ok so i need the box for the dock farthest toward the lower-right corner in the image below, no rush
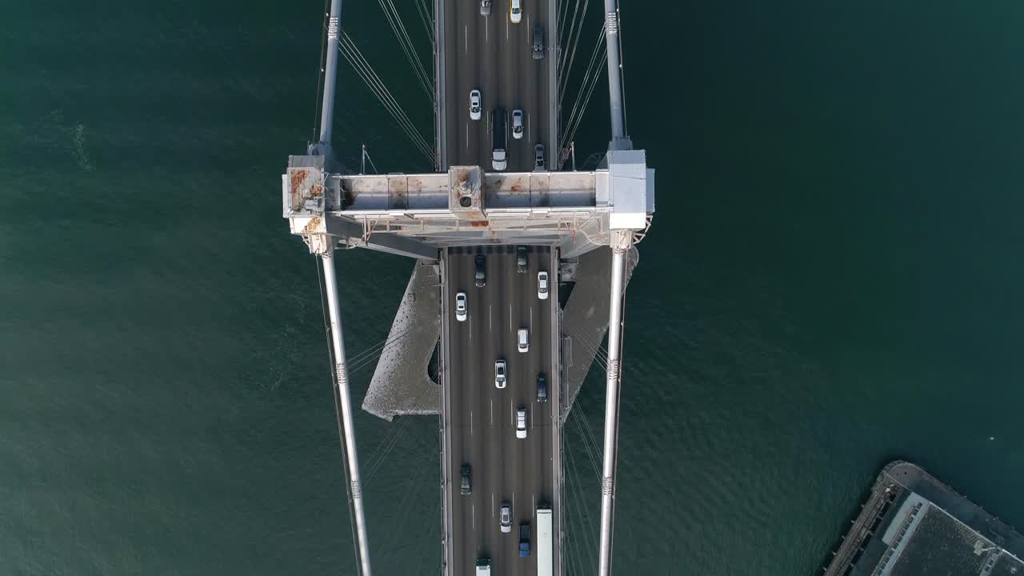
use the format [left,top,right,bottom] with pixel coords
[812,455,1024,576]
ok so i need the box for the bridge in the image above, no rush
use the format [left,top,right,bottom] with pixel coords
[283,0,654,576]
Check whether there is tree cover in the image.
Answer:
No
